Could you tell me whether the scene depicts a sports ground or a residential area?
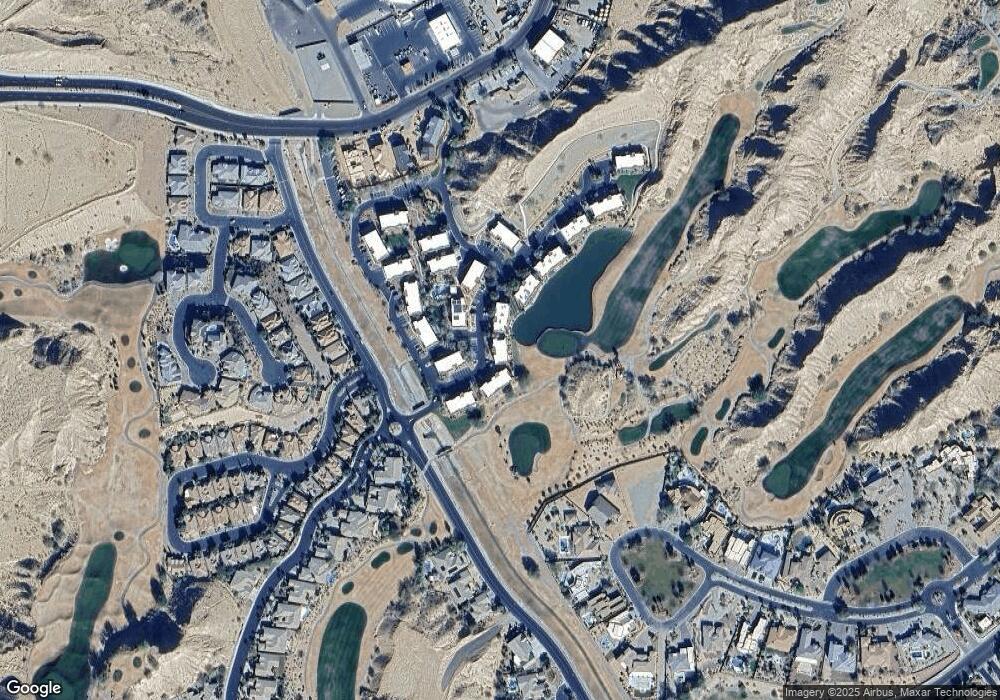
residential area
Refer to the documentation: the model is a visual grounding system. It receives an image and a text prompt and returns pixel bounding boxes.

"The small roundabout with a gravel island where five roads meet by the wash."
[379,407,413,447]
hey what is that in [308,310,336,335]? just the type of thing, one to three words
house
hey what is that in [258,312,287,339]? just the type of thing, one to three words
house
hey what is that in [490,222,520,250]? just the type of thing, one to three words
building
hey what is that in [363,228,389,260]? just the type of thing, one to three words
building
